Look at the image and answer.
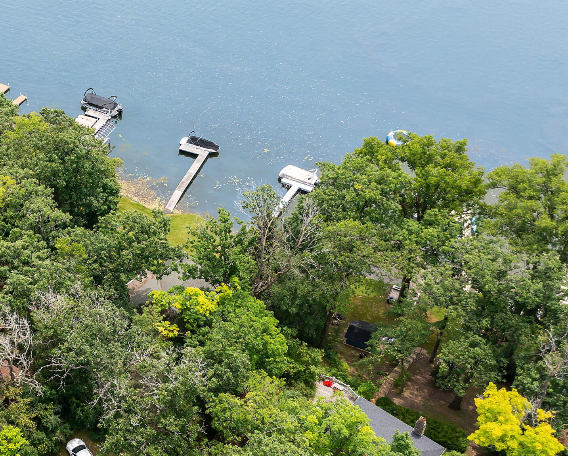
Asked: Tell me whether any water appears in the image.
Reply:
Yes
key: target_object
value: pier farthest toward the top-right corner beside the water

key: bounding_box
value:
[264,179,314,220]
